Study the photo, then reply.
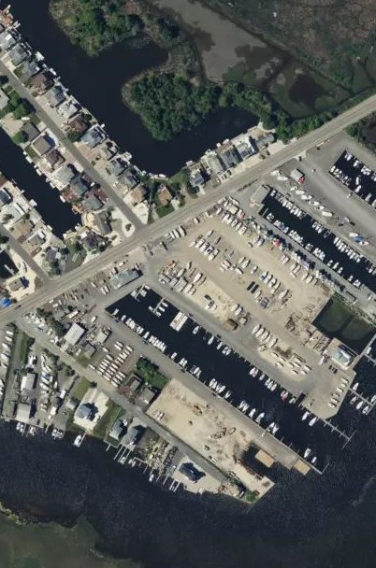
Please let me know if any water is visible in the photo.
Yes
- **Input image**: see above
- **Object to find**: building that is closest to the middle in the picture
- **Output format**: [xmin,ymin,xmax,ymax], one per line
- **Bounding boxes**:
[107,266,140,292]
